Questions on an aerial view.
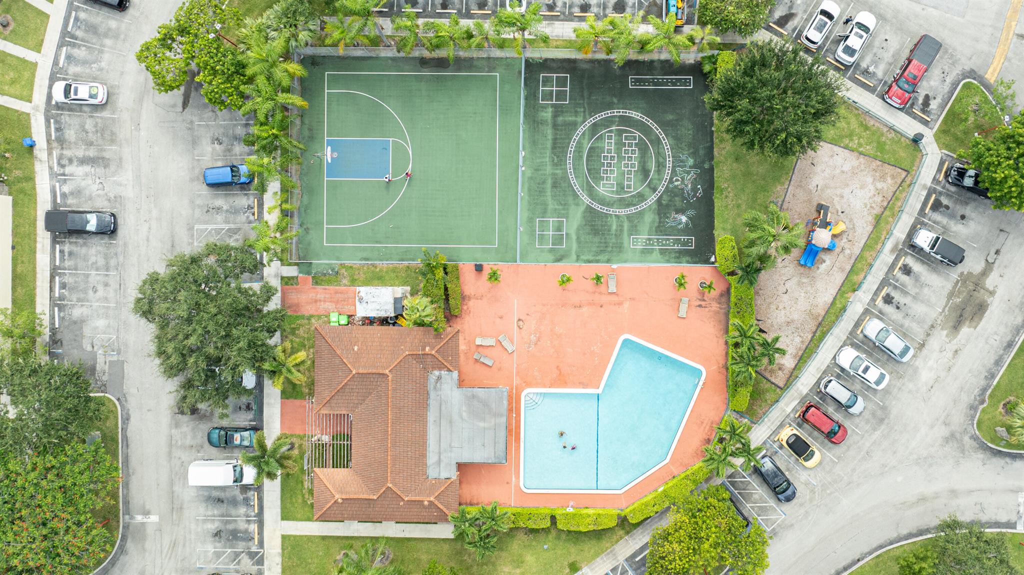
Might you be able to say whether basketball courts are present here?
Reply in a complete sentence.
Yes, looking at the shot, I can spot a basketball court.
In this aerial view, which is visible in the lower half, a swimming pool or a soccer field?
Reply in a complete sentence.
Looking in the lower half, you will find a swimming pool.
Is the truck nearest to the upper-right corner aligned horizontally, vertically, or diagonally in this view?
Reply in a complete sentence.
I'd say the truck nearest to the upper-right corner is aligned diagonally in the picture.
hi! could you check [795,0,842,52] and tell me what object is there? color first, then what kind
white car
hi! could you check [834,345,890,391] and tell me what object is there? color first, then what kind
white car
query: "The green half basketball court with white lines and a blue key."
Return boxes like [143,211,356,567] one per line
[298,56,522,275]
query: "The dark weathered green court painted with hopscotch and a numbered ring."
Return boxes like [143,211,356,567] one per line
[520,57,717,265]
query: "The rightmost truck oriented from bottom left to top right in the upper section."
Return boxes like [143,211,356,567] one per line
[882,33,944,110]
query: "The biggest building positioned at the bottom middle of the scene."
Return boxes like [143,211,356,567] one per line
[313,325,508,522]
